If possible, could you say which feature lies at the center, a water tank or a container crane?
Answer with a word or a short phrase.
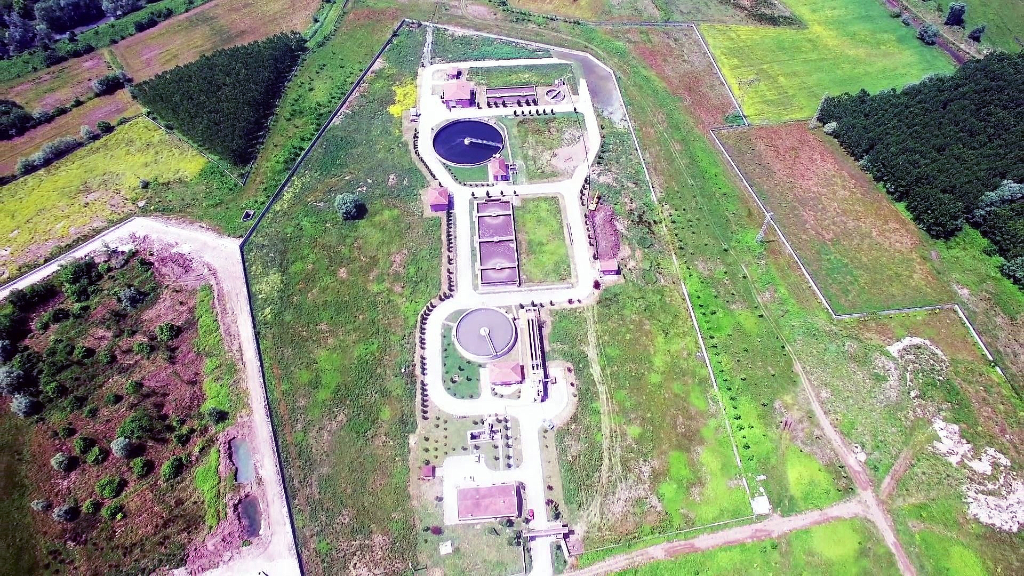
water tank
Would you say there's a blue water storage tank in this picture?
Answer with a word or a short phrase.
Yes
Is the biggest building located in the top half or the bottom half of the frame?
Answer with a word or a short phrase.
bottom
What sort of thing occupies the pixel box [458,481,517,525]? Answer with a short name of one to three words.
building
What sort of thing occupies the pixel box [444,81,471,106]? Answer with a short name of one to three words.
building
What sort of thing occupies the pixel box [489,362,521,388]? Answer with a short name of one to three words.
house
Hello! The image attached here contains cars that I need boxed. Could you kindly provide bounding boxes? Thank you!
[528,509,534,520]
[543,419,555,430]
[474,453,480,465]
